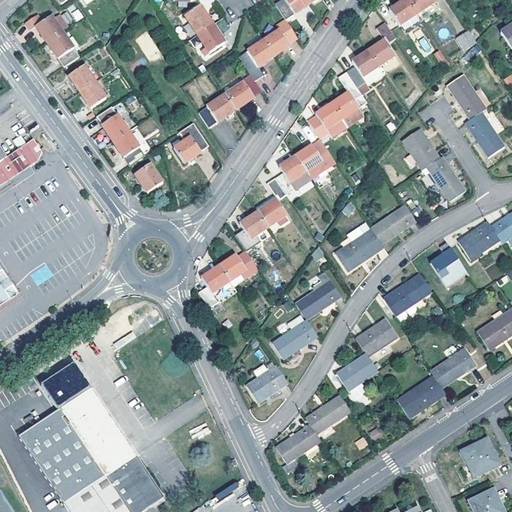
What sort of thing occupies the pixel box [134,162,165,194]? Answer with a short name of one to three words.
house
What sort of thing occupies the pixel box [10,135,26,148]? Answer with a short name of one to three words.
vehicle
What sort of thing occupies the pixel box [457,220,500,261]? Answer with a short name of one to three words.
house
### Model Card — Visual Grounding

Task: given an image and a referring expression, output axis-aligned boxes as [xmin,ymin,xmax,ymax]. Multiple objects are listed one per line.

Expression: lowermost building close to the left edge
[20,362,174,512]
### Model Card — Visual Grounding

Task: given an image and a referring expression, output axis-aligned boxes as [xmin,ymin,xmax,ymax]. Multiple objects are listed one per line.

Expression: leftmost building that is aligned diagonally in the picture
[0,140,44,190]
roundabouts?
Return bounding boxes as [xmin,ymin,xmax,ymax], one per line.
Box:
[116,220,190,293]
